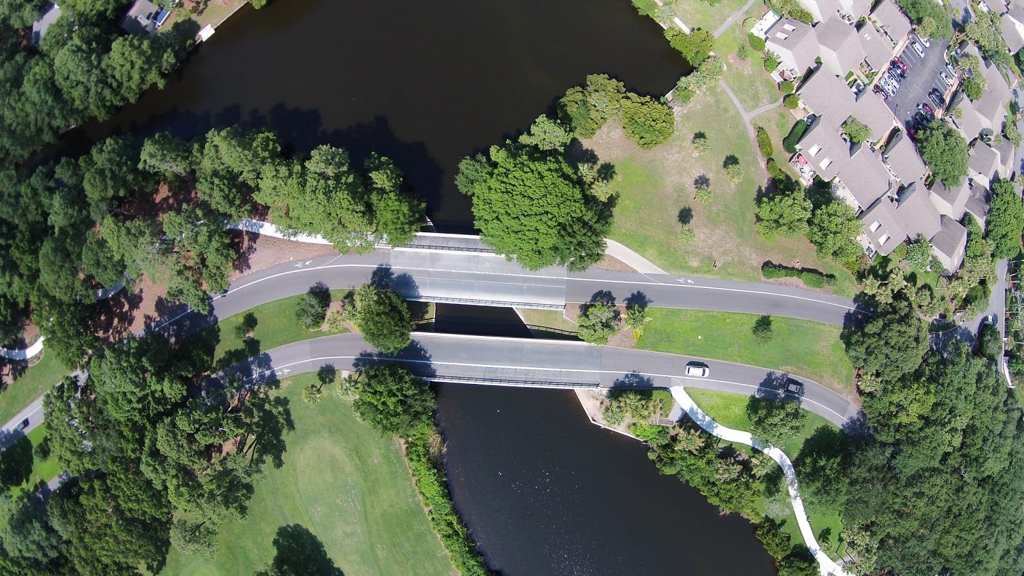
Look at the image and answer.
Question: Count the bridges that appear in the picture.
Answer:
2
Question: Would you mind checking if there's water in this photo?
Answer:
Yes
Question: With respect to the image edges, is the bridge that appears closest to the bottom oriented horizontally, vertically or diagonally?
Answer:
horizontally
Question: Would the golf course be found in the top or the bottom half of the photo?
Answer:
bottom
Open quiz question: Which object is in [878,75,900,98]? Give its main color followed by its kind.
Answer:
white car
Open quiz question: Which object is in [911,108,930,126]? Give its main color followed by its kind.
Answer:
black car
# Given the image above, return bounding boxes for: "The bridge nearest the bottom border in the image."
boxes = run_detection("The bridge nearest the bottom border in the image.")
[409,332,602,390]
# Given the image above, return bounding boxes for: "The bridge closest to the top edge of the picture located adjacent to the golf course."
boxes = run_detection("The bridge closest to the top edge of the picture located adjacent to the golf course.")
[380,234,605,310]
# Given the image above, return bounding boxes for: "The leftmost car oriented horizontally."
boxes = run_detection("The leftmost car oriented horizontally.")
[685,364,710,376]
